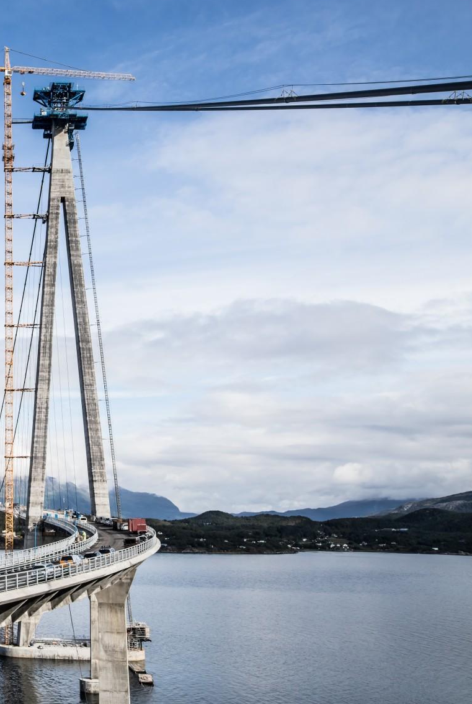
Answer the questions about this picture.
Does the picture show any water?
Yes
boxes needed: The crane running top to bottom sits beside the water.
[0,51,138,645]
